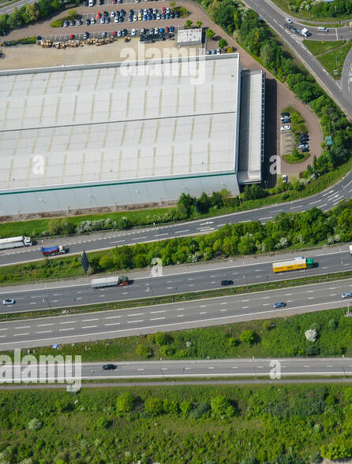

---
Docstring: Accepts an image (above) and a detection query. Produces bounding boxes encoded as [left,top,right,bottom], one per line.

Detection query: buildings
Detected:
[0,52,241,212]
[178,27,203,47]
